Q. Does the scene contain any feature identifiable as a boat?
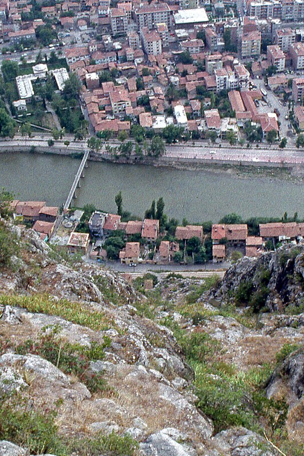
No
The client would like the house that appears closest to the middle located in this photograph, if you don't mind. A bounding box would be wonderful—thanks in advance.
[142,219,158,244]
